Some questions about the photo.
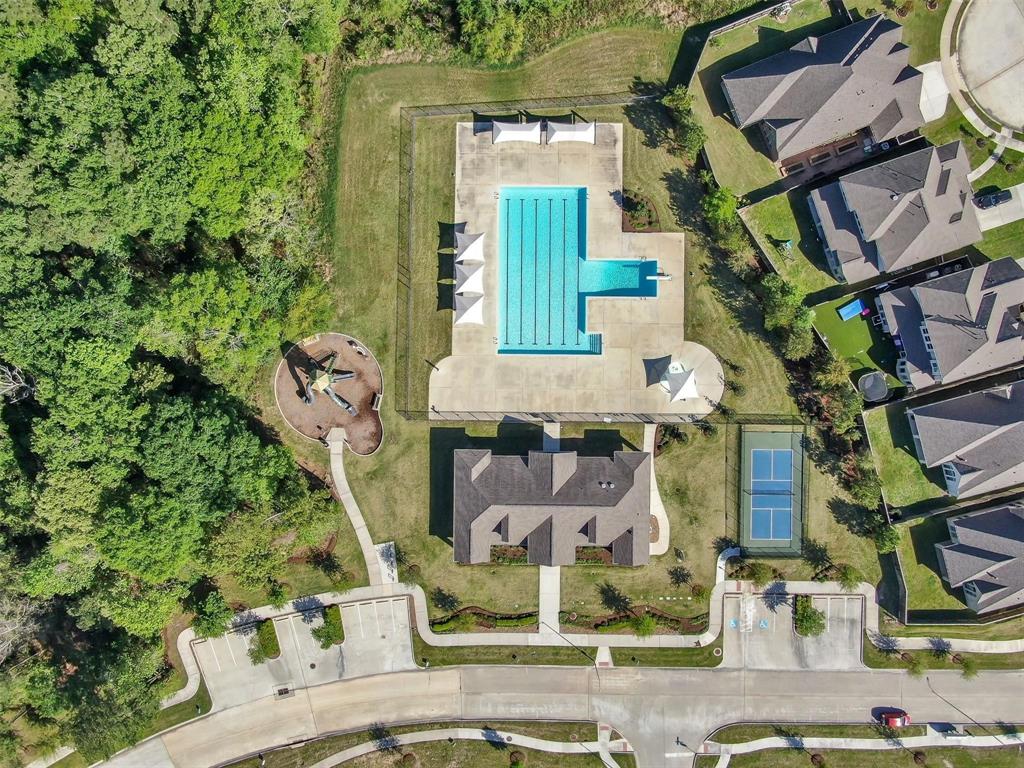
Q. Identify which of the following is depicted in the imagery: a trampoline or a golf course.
trampoline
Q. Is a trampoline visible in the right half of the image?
Yes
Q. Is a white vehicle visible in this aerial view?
No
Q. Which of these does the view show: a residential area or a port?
residential area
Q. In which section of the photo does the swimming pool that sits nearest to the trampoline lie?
right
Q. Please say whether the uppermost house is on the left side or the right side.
right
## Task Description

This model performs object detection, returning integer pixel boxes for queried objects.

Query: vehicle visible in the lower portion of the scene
[879,708,910,726]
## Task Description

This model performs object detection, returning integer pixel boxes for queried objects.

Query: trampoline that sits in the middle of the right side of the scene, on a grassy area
[859,371,892,401]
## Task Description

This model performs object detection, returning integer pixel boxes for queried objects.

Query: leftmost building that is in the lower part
[454,449,650,569]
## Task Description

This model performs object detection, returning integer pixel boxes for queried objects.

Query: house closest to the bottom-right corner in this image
[931,497,1024,615]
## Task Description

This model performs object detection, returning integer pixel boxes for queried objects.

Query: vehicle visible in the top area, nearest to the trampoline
[974,187,1017,210]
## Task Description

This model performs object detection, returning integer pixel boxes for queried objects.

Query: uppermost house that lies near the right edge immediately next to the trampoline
[871,257,1024,390]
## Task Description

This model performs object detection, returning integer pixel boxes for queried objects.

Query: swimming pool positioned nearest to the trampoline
[836,300,868,322]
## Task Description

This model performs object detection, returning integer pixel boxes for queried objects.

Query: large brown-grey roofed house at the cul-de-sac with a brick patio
[720,14,925,166]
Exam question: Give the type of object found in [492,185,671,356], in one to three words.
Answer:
swimming pool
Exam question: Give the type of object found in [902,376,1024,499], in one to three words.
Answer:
house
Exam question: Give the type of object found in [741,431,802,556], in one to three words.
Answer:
sports court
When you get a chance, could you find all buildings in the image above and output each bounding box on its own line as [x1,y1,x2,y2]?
[902,376,1024,499]
[931,497,1024,615]
[805,141,983,285]
[720,14,925,166]
[454,449,650,569]
[871,257,1024,390]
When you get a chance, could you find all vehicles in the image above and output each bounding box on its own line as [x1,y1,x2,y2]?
[879,708,910,726]
[974,187,1017,210]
